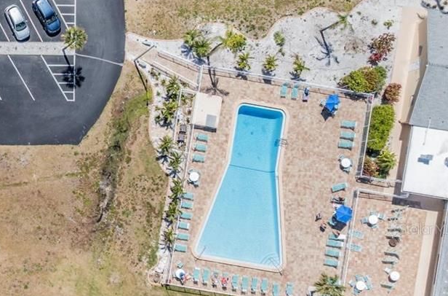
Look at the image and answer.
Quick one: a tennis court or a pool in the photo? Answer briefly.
pool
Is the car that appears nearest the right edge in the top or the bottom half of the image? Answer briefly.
top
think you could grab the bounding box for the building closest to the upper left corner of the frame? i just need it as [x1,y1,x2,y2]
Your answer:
[186,93,221,130]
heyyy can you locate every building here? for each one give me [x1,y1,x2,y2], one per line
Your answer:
[389,9,448,296]
[186,93,221,130]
